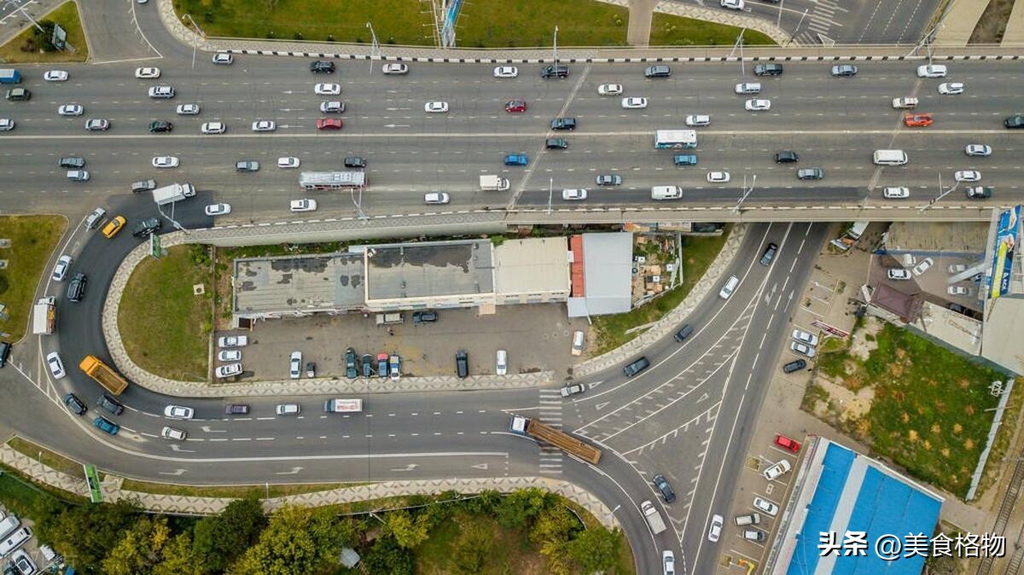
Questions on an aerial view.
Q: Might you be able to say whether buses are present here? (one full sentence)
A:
Yes, there's a bus down there.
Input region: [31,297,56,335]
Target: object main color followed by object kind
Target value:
white truck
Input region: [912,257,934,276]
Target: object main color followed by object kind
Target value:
white car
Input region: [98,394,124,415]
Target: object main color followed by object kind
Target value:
gray car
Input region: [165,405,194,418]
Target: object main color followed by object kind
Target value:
white vehicle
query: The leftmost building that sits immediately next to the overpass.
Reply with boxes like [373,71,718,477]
[234,253,374,332]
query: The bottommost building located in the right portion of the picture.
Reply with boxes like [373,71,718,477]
[756,436,945,575]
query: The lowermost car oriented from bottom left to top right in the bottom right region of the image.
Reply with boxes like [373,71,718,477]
[762,459,791,481]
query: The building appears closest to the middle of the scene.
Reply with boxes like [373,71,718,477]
[496,236,570,306]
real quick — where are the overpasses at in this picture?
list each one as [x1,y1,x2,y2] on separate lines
[0,35,1024,245]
